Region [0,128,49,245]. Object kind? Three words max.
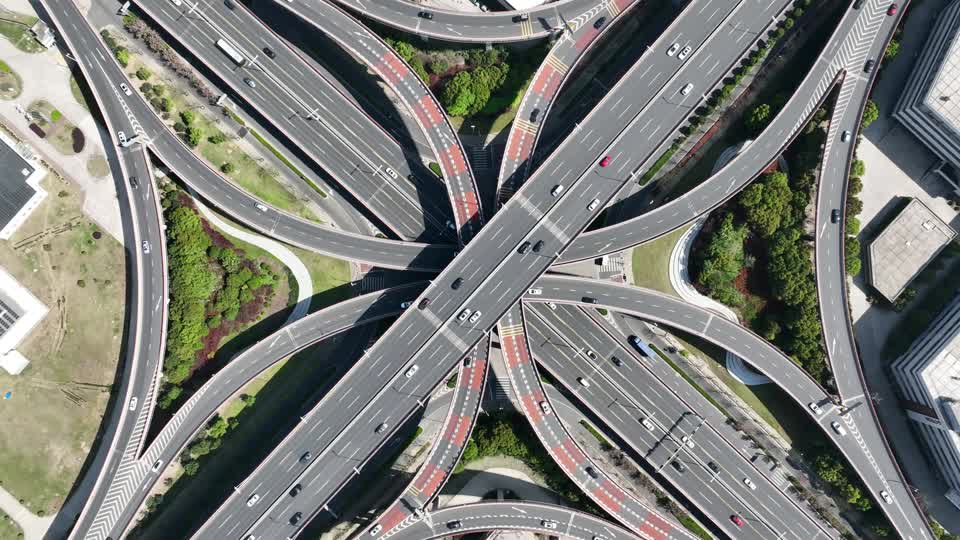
building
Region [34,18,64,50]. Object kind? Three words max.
building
